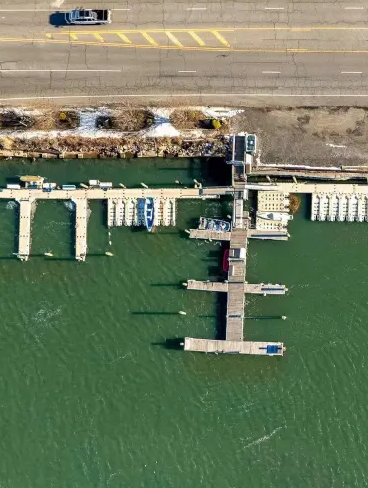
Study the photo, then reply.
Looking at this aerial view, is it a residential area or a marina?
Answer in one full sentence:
It's a marina.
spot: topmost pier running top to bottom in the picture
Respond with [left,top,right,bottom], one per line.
[226,136,249,191]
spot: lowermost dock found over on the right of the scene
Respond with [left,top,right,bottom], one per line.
[184,211,289,356]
